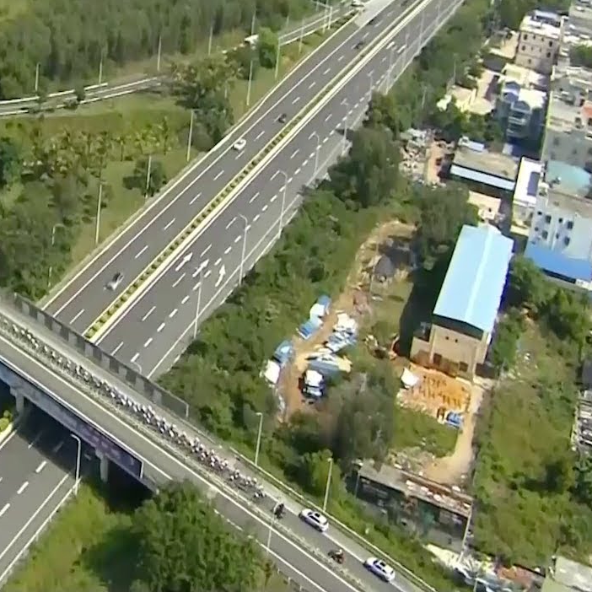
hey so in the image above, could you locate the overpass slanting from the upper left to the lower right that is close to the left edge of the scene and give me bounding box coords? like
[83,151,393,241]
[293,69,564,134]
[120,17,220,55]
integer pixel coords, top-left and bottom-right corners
[0,290,236,486]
